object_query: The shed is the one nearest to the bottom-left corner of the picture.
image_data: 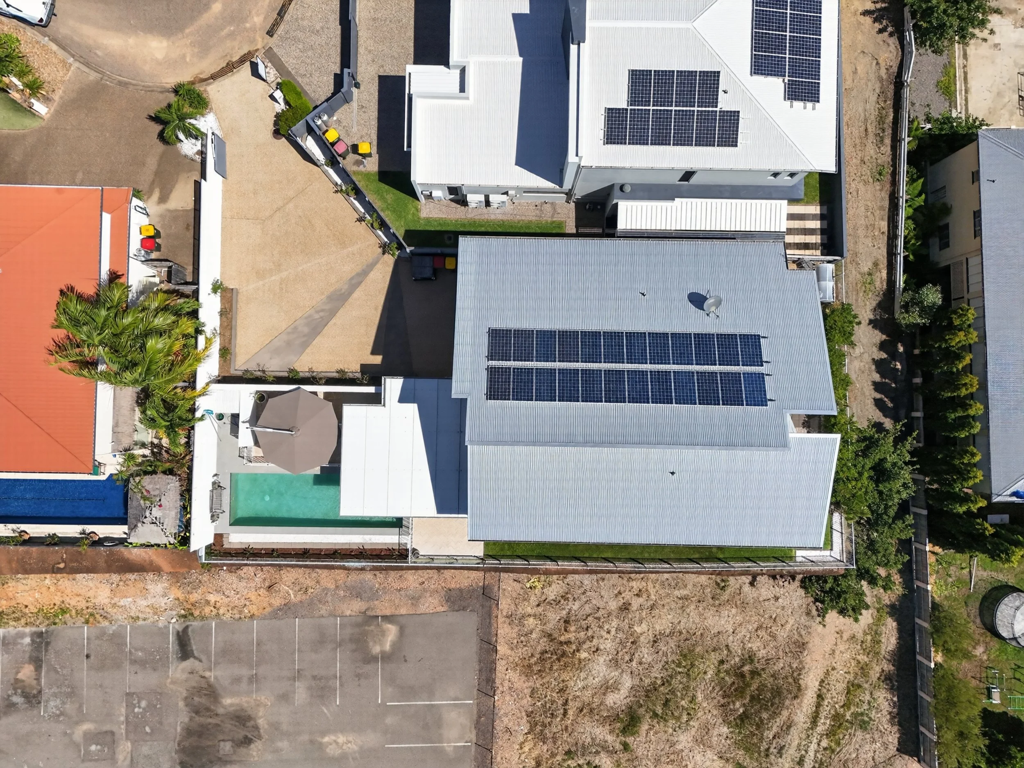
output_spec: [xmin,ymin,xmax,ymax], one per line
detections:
[124,469,191,546]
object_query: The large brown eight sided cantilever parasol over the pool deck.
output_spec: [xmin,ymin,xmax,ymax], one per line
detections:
[244,387,339,475]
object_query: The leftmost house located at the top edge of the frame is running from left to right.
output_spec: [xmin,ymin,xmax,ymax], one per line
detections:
[404,0,841,213]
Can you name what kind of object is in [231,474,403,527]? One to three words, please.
swimming pool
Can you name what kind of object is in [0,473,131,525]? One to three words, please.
swimming pool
